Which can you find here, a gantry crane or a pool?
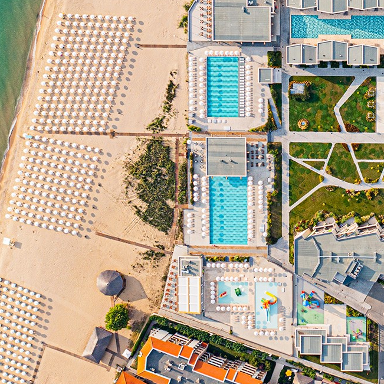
pool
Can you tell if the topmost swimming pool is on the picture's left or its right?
right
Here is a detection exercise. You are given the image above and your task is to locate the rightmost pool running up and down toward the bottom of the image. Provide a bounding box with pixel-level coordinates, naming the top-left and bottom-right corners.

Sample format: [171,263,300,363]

[255,281,278,330]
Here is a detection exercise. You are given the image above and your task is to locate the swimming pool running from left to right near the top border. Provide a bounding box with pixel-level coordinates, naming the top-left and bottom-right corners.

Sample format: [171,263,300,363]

[290,14,384,40]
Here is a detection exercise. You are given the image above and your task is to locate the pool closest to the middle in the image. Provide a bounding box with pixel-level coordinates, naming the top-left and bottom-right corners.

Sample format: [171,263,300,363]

[208,176,248,245]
